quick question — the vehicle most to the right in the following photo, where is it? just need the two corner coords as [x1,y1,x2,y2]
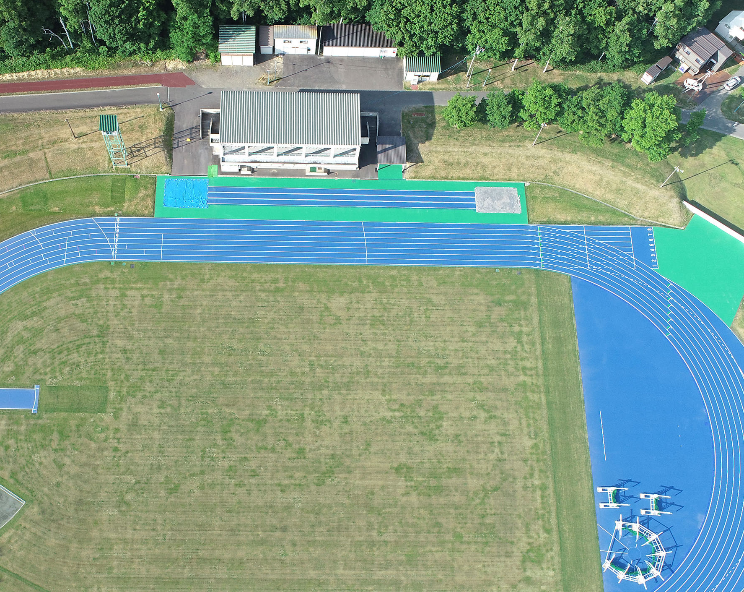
[726,76,743,91]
